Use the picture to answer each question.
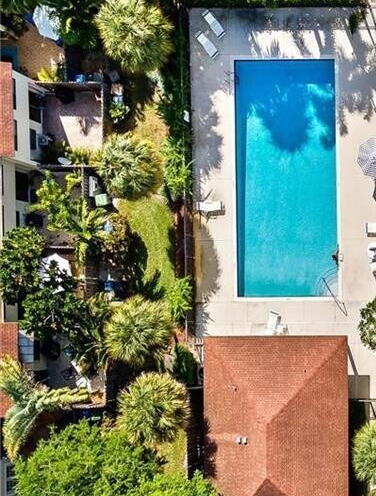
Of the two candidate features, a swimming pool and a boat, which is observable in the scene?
swimming pool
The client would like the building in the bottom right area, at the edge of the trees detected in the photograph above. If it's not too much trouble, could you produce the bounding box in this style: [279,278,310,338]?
[203,335,356,496]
